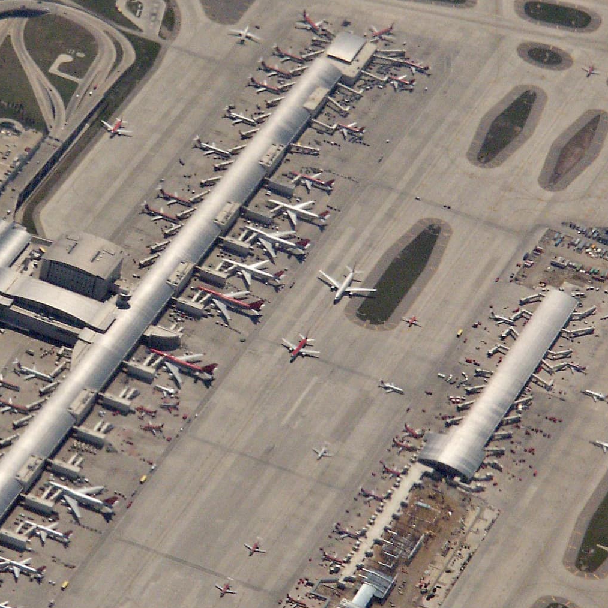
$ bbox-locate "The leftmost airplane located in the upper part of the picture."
[102,112,132,136]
